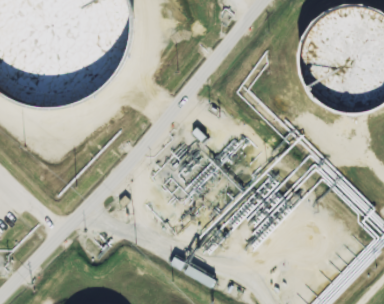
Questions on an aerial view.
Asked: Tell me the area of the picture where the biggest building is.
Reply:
bottom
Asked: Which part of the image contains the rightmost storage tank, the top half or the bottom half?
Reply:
top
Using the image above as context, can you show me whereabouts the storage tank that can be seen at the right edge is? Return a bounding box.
[296,4,384,116]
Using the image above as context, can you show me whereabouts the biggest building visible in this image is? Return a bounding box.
[184,265,218,291]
